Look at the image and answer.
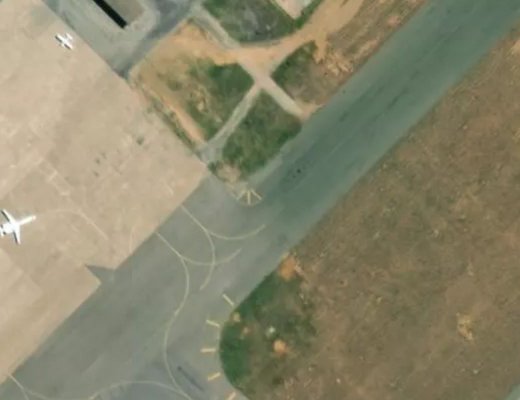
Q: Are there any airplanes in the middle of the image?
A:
No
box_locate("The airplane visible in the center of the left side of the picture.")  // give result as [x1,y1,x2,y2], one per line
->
[0,210,36,245]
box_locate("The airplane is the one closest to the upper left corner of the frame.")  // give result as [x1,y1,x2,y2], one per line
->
[56,32,73,49]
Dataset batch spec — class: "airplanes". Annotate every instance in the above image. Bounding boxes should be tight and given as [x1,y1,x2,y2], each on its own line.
[56,32,73,49]
[0,210,36,245]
